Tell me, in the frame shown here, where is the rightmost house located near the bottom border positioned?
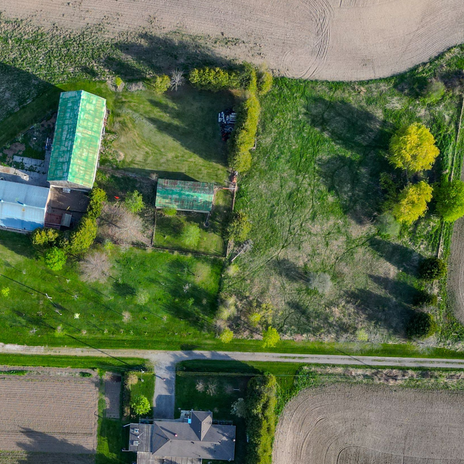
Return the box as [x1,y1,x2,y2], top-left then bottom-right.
[152,411,236,461]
